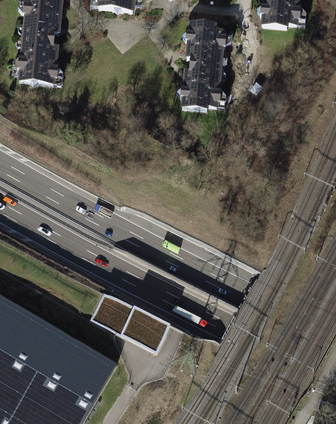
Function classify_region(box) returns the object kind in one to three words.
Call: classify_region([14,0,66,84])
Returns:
house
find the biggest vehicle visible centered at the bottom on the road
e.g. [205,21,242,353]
[171,304,207,328]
